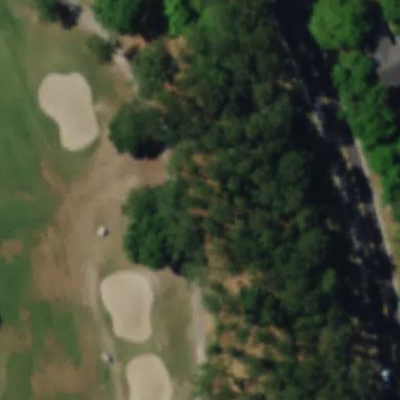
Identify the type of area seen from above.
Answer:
golf course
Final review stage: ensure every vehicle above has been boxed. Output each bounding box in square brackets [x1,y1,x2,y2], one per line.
[100,352,112,363]
[96,226,107,235]
[380,365,392,386]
